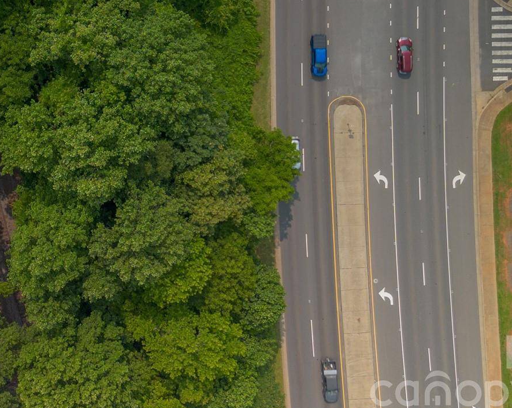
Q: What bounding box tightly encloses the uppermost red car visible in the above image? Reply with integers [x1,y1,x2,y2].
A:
[395,37,414,74]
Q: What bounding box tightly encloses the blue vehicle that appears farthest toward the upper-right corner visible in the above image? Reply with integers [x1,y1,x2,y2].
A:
[310,34,328,77]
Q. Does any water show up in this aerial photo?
No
